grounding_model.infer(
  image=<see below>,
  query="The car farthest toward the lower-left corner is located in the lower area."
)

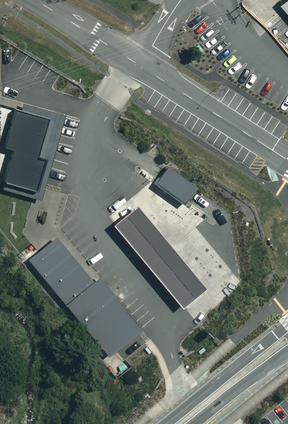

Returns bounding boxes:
[125,342,140,355]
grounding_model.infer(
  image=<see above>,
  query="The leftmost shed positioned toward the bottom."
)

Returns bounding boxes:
[28,238,95,305]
